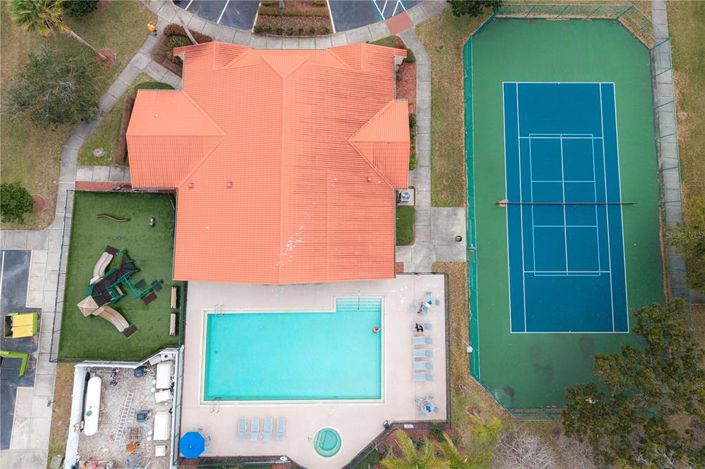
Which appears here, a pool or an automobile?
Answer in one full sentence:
It is a pool that can be seen here.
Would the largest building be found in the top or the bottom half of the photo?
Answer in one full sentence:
Seen from above, the largest building lies in the top half of the view.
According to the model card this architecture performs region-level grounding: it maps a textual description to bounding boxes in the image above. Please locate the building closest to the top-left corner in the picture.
[127,42,410,283]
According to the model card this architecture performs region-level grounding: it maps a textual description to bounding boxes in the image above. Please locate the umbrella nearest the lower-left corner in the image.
[178,432,204,458]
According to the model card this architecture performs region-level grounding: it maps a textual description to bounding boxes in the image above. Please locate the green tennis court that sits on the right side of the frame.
[467,18,669,408]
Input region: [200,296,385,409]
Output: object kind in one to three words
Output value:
swimming pool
